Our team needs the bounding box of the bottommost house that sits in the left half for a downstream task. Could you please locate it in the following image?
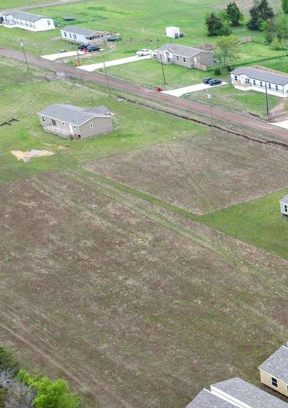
[32,104,112,140]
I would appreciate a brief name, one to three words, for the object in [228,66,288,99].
house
